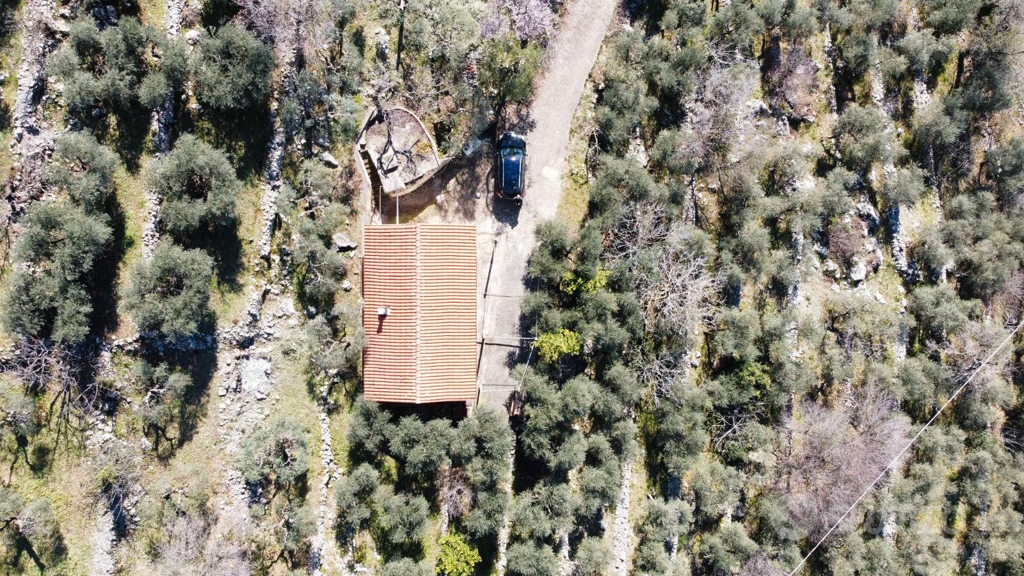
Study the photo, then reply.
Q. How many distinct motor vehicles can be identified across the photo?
1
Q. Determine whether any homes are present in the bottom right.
No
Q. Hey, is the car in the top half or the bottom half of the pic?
top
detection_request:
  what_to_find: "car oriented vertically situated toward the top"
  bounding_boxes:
[495,133,528,201]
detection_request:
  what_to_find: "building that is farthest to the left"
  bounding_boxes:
[362,223,478,406]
